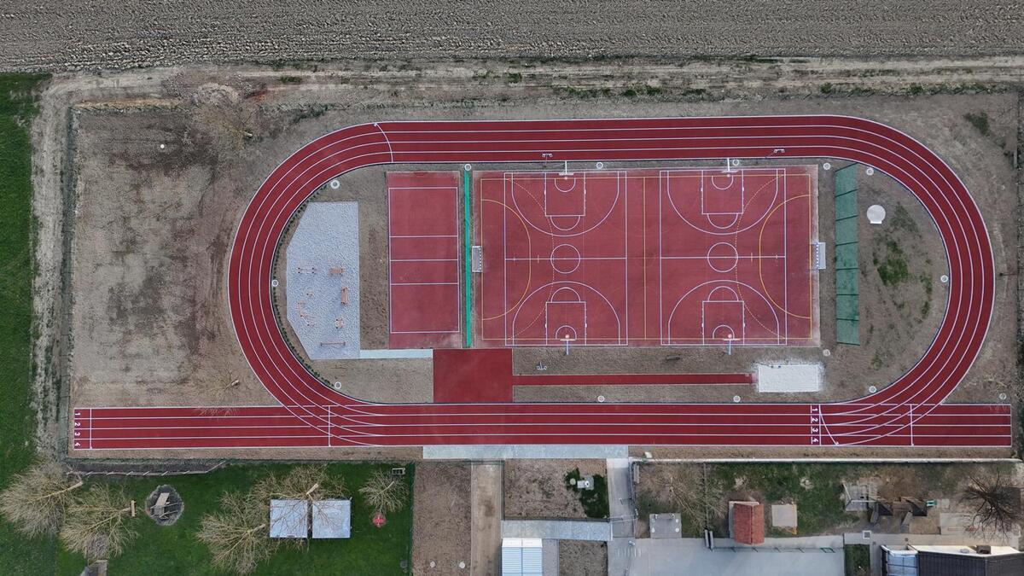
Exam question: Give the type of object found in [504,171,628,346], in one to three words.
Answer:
basketball court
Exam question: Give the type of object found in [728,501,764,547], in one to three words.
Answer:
shed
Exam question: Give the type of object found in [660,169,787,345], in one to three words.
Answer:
basketball court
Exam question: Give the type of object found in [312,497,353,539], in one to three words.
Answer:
shed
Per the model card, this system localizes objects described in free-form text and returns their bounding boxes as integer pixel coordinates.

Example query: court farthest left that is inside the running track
[386,171,462,349]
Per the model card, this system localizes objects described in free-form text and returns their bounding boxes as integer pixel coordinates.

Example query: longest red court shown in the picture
[473,165,821,348]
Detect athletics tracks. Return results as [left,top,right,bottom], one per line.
[73,114,1012,450]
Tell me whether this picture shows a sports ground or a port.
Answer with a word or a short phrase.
sports ground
